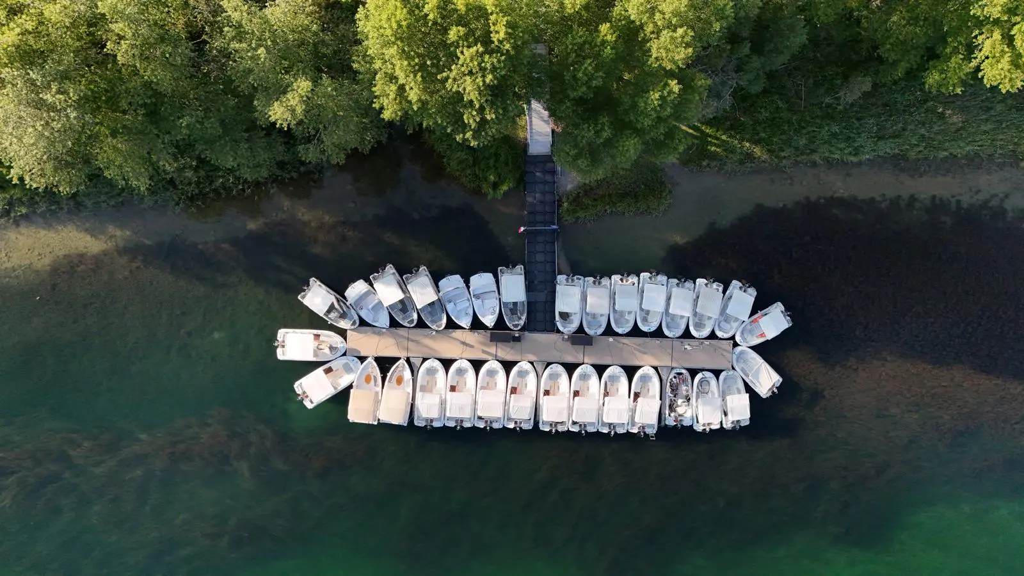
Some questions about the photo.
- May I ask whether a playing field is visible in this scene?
No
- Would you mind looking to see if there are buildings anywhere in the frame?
No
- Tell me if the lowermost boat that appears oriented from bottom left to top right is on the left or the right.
left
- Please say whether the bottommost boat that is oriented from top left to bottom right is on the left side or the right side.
right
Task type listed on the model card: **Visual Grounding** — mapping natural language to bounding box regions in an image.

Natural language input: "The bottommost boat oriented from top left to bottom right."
[732,347,781,397]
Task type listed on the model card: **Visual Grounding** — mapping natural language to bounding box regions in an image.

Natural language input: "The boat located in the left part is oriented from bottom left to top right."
[295,357,361,408]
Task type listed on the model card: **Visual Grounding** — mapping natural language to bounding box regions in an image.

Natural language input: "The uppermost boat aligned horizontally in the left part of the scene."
[274,329,350,361]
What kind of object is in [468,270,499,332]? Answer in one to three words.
boat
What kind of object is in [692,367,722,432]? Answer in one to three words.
boat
